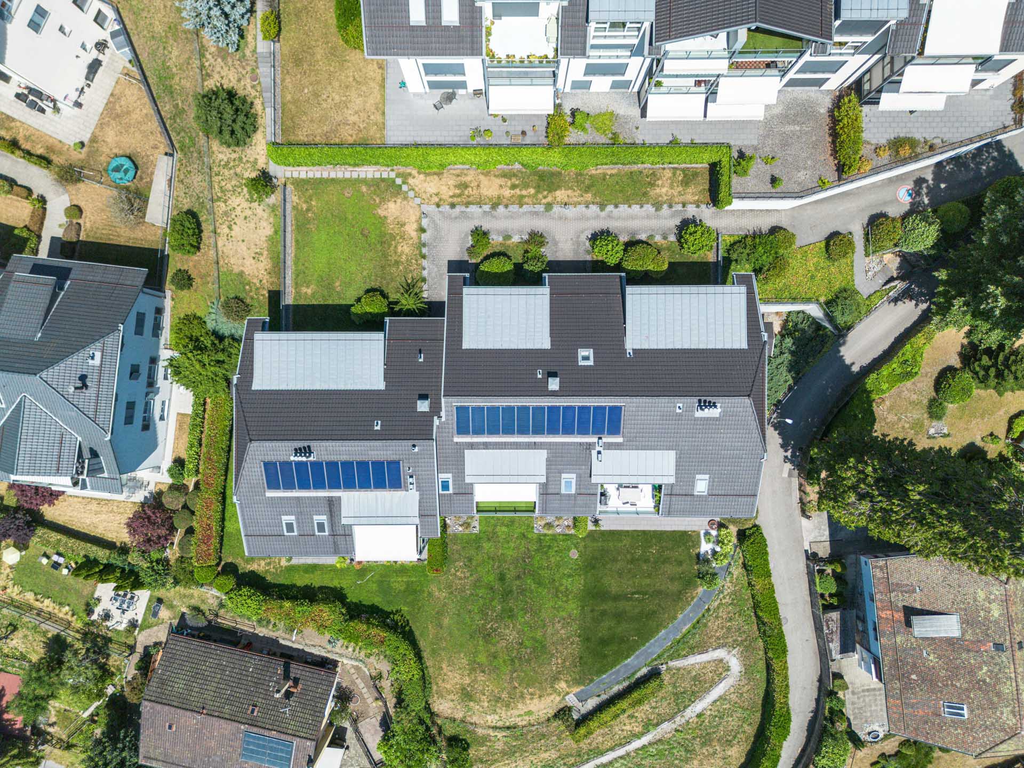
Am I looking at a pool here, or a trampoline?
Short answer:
trampoline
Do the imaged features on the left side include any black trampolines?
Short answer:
No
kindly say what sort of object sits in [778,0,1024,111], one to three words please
house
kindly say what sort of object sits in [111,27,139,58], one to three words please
shed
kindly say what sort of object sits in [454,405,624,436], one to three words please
solar array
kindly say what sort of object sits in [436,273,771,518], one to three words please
house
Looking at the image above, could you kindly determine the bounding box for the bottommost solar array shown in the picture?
[241,730,295,768]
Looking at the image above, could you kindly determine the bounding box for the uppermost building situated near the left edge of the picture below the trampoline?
[0,253,173,494]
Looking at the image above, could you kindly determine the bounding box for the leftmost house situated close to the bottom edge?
[139,633,346,768]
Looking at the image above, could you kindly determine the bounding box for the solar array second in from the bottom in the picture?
[262,461,404,490]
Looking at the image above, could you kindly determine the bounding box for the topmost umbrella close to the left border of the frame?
[3,544,35,564]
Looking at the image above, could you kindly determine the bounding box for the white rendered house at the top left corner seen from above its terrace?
[0,0,123,107]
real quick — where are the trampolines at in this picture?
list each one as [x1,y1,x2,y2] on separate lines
[103,152,147,188]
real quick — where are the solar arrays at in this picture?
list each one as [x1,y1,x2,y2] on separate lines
[241,730,295,768]
[454,405,624,436]
[262,461,404,490]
